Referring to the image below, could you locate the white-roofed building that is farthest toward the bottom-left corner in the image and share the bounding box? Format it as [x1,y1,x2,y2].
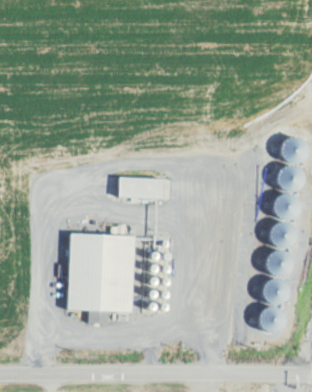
[66,233,136,324]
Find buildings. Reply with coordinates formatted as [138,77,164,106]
[118,177,170,200]
[66,233,136,324]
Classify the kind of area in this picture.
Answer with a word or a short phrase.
industrial area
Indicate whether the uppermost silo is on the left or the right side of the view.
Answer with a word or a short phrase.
right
